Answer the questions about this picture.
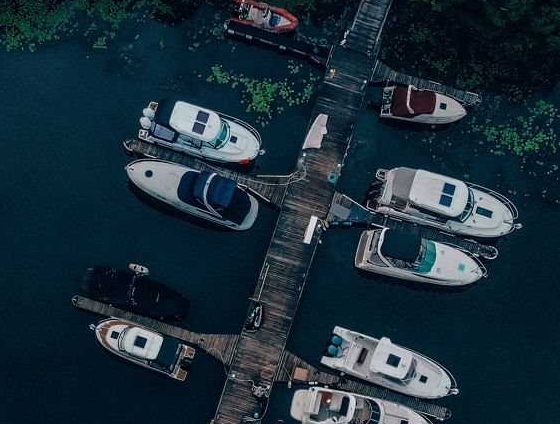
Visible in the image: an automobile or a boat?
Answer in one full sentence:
There is a boat in the scene.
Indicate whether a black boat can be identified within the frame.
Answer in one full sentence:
Yes, this view includes a black boat.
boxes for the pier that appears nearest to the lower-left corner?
[71,294,240,367]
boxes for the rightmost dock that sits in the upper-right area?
[371,61,480,107]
